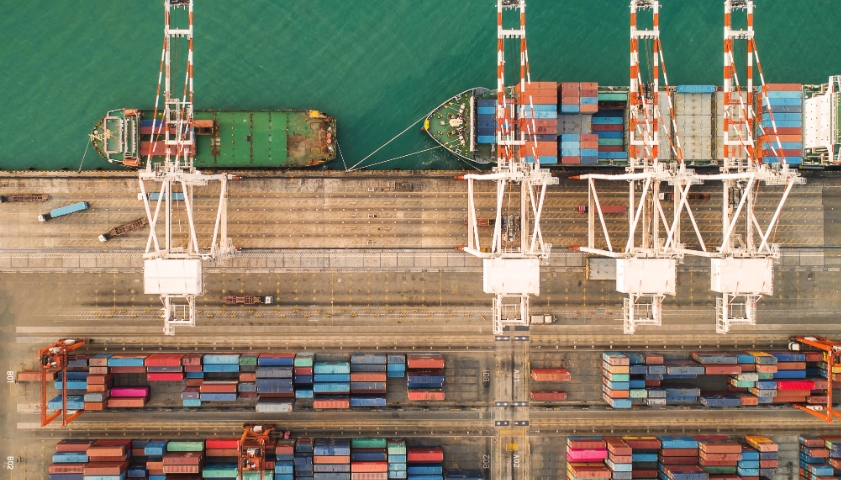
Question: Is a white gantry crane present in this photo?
Yes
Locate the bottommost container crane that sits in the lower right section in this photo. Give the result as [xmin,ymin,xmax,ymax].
[790,336,841,425]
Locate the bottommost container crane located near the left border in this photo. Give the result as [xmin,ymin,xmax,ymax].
[35,340,91,431]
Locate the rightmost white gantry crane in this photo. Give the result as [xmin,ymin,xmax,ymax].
[659,0,807,337]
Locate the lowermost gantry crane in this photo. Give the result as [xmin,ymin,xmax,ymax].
[234,423,278,480]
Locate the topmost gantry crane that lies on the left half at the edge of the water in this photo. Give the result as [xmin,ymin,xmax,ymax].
[137,0,246,339]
